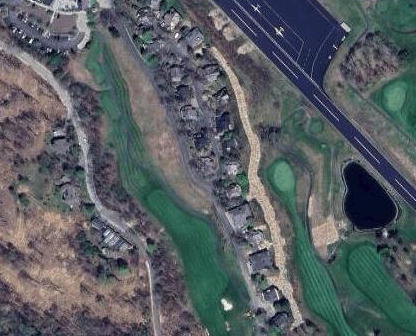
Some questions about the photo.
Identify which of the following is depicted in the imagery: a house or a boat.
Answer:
house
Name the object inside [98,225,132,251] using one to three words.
building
